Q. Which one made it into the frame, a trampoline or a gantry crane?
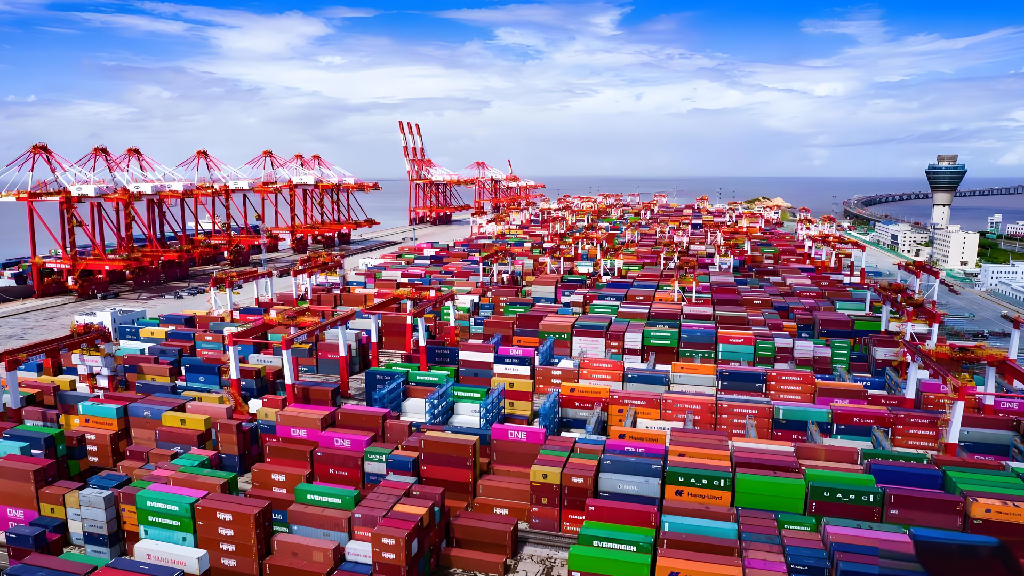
gantry crane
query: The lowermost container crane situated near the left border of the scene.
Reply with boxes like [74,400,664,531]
[0,309,123,423]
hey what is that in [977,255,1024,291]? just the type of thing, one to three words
building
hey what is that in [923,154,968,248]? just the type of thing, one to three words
building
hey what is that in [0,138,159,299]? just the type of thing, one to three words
container crane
